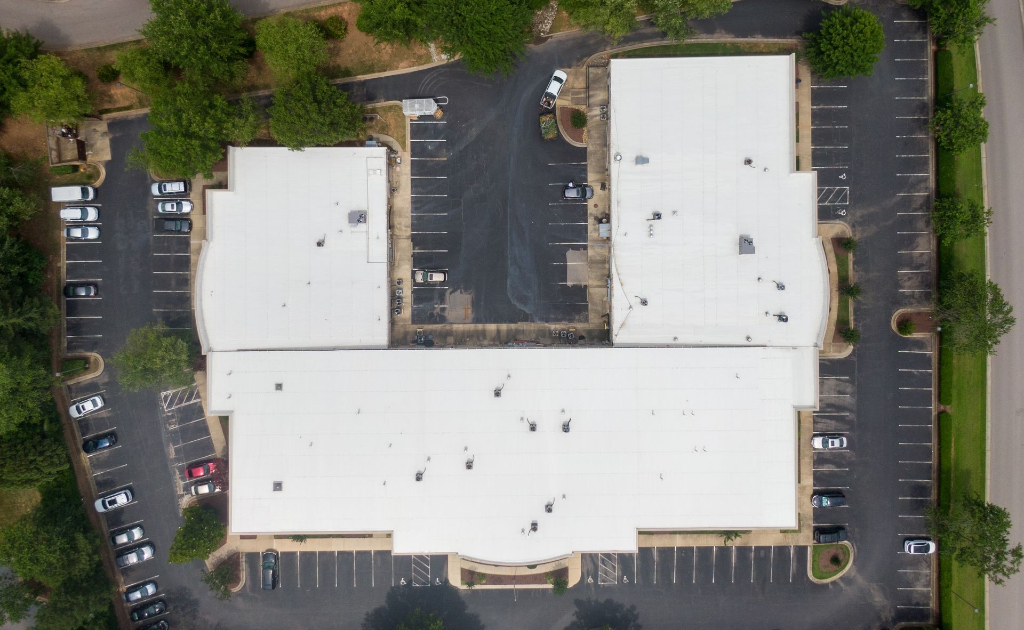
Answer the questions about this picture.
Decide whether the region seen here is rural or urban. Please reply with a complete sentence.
The area is urban.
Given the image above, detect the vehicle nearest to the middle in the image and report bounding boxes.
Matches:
[415,268,448,284]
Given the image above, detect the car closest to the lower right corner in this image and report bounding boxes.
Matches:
[903,539,935,555]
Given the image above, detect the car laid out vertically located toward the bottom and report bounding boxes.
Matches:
[261,549,278,589]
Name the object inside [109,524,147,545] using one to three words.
car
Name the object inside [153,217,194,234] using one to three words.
vehicle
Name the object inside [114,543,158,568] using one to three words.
truck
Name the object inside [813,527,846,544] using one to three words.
car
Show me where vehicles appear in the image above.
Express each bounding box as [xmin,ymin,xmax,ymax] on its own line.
[813,527,846,544]
[82,432,119,453]
[158,198,195,214]
[129,600,169,622]
[47,185,96,202]
[122,580,160,603]
[563,180,593,200]
[109,524,147,545]
[114,543,158,568]
[261,549,278,589]
[810,435,847,450]
[539,69,564,109]
[190,479,227,495]
[64,225,102,240]
[903,539,935,555]
[415,268,448,284]
[94,489,135,512]
[64,282,100,298]
[810,492,847,509]
[152,180,192,196]
[69,395,107,417]
[184,460,222,479]
[58,206,100,222]
[153,217,194,234]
